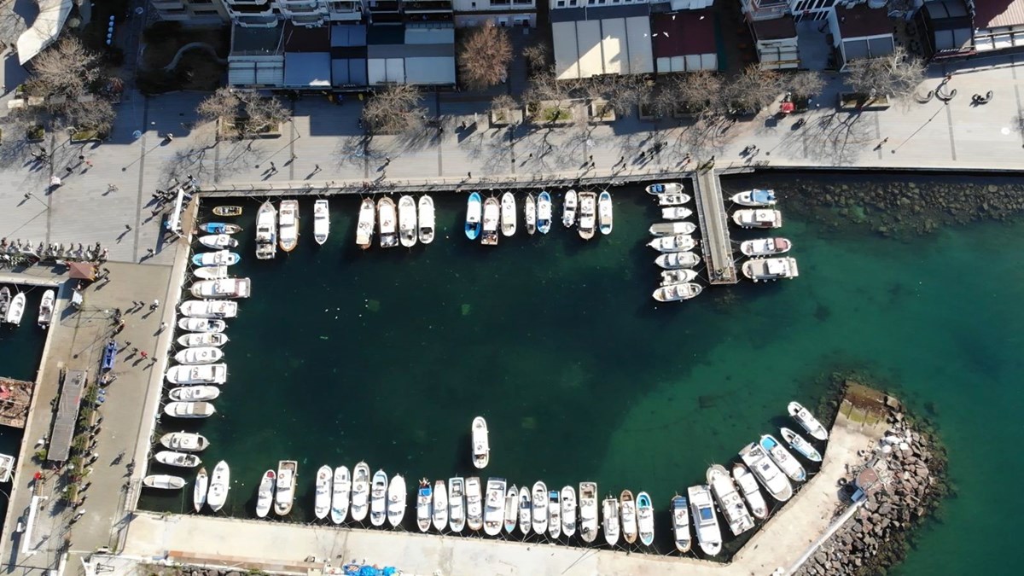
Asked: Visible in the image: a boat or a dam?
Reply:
boat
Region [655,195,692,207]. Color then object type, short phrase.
white boat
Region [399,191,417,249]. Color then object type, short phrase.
white boat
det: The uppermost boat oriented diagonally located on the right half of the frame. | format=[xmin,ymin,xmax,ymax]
[788,402,833,445]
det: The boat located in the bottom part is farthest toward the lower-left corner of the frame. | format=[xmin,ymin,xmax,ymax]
[0,451,20,481]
